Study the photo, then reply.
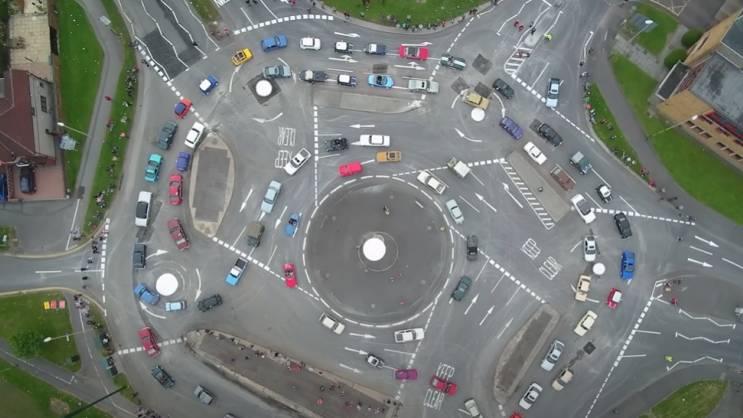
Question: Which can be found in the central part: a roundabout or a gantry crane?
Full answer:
There is a roundabout in the central part.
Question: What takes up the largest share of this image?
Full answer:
Most of the picture is covered by paved ground.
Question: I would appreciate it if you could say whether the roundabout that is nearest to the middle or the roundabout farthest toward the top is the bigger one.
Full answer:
Compared with the roundabout farthest toward the top, the roundabout that is nearest to the middle is the bigger one.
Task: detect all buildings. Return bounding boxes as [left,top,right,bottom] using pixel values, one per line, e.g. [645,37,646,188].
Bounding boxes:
[647,0,743,166]
[0,63,55,168]
[45,24,62,57]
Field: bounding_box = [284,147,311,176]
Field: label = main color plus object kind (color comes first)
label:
white car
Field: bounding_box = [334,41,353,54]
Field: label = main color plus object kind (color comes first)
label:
white vehicle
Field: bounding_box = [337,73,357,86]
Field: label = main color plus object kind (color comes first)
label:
white vehicle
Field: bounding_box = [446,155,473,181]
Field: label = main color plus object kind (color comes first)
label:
white car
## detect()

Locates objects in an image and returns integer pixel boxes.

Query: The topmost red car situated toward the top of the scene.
[399,45,429,60]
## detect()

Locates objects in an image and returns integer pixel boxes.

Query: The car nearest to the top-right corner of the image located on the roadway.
[545,78,560,109]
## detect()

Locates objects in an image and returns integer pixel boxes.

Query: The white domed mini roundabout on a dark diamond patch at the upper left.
[243,69,282,105]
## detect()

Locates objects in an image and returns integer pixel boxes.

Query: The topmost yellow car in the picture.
[229,48,254,67]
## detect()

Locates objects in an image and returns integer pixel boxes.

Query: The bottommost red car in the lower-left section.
[139,326,160,358]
